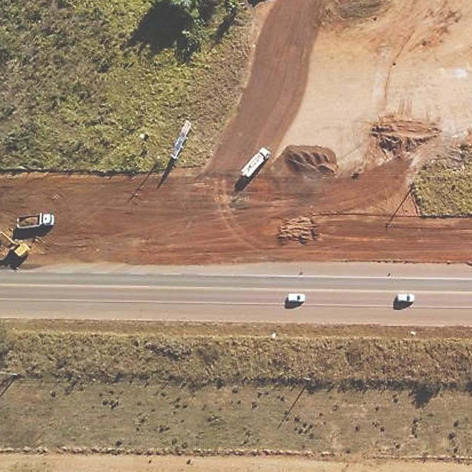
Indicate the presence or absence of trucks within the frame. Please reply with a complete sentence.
Yes, you can see a truck in this photo.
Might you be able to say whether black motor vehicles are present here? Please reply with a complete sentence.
No, I find no black motor vehicle anywhere in the image.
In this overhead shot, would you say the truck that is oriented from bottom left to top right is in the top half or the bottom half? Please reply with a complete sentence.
It is in the top half that the truck that is oriented from bottom left to top right appears.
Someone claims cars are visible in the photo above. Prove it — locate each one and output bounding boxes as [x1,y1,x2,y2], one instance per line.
[398,294,415,302]
[288,293,306,302]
